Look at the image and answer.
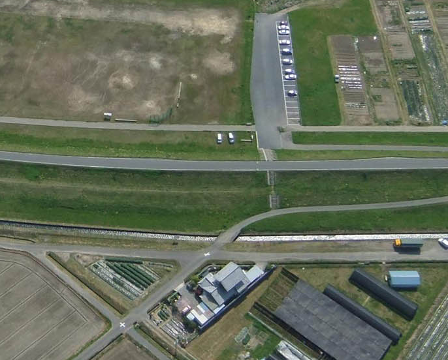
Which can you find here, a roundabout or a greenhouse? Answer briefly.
greenhouse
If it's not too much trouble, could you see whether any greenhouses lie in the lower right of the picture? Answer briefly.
Yes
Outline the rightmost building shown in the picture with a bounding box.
[388,271,419,290]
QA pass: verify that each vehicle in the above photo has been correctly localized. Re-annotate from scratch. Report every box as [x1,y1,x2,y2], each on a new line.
[284,68,294,73]
[288,90,296,95]
[279,24,289,30]
[282,49,291,54]
[283,58,292,63]
[280,39,291,44]
[335,73,340,82]
[279,30,290,35]
[285,74,296,80]
[280,19,289,24]
[395,238,425,249]
[439,239,448,247]
[228,131,235,142]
